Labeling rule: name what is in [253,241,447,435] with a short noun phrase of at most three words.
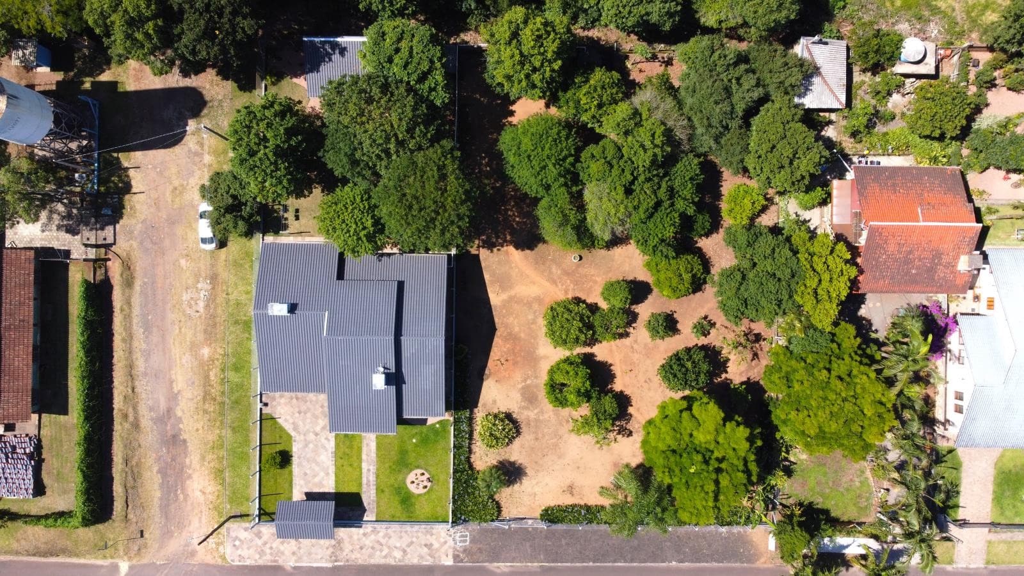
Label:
house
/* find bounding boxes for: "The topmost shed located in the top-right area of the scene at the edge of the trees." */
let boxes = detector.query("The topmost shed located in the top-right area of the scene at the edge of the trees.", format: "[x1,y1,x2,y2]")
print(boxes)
[790,32,847,112]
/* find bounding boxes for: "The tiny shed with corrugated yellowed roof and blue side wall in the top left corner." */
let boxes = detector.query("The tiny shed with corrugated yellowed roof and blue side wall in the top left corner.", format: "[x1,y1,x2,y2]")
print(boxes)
[11,38,52,72]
